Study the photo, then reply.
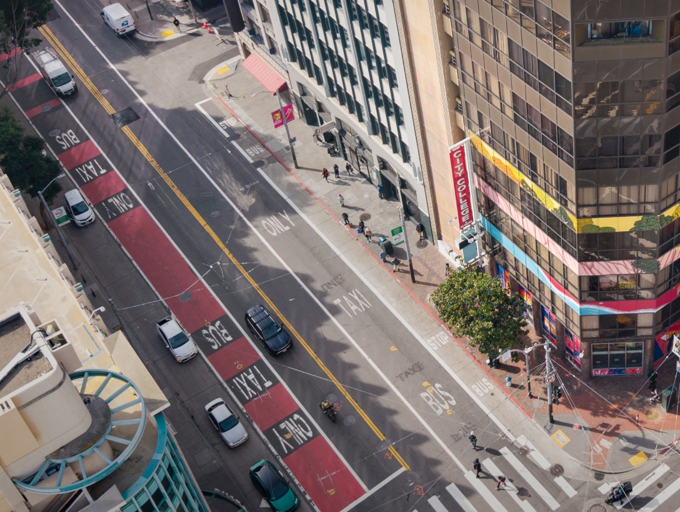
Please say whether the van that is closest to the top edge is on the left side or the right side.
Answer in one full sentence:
The van that is closest to the top edge is on the left side of the image.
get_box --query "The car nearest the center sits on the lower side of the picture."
[244,306,297,359]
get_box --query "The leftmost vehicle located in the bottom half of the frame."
[152,314,204,368]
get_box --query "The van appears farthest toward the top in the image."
[95,0,140,40]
